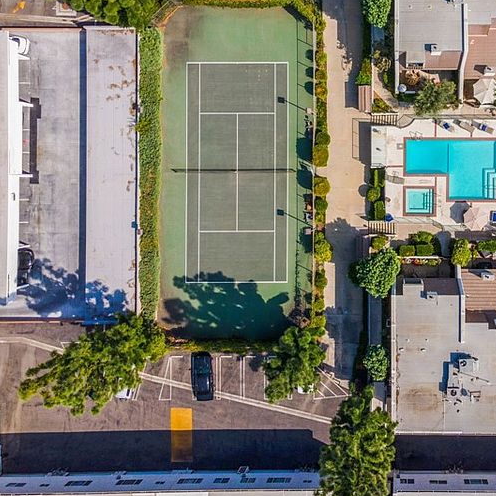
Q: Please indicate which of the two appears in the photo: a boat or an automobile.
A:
automobile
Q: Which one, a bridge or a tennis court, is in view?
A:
tennis court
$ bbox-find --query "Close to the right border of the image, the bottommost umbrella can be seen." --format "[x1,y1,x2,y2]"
[463,204,488,229]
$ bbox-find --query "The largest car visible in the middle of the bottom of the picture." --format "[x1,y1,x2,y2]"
[189,353,215,400]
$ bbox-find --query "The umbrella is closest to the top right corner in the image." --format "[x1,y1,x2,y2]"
[472,80,496,106]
